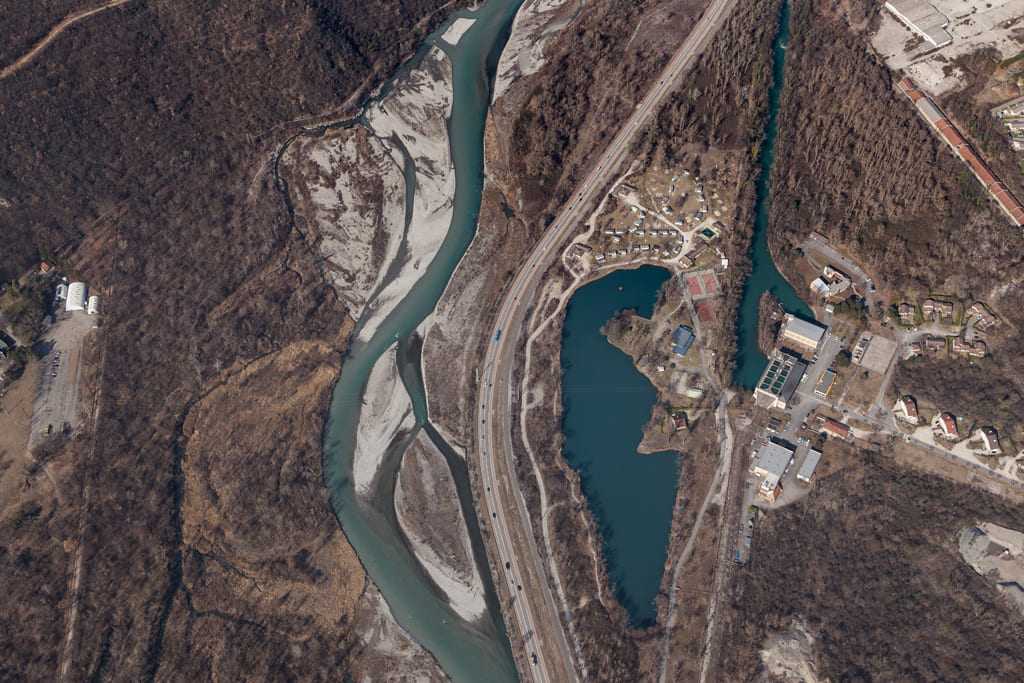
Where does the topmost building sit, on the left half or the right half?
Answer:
right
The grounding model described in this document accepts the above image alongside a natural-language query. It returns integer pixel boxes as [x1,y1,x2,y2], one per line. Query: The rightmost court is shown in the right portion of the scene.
[861,335,898,372]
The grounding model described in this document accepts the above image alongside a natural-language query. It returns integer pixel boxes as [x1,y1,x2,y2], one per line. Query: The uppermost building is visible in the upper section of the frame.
[885,0,953,54]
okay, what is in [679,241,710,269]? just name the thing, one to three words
building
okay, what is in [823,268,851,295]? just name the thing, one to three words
house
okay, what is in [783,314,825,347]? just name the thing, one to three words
building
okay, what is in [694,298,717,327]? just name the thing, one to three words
tennis court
